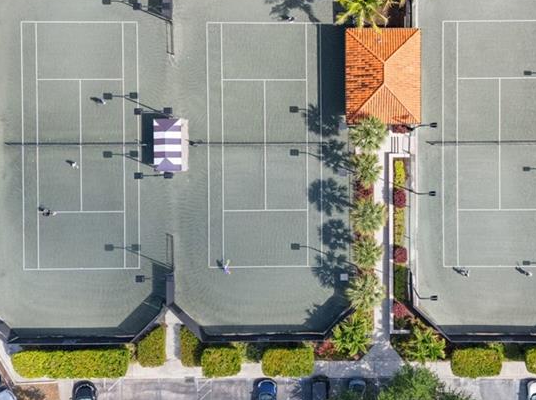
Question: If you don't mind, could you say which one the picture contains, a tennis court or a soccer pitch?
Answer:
tennis court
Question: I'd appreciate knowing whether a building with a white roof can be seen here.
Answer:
No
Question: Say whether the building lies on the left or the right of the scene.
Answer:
right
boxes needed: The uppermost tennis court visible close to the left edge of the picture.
[7,18,149,273]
